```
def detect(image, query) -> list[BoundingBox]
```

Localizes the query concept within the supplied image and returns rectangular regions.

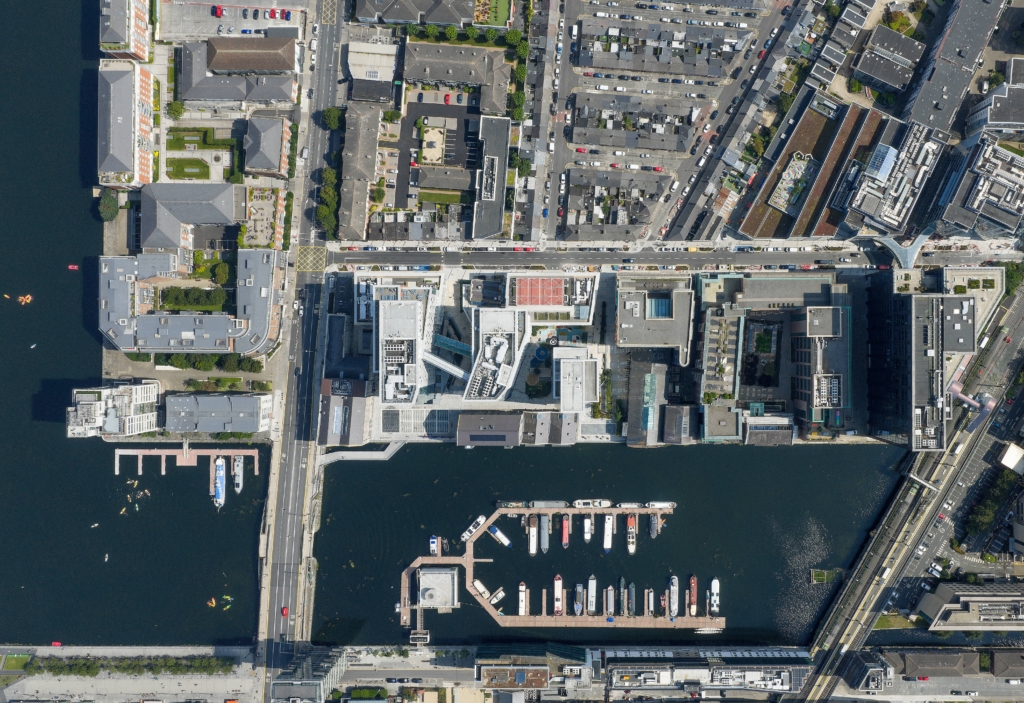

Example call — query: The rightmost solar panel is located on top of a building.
[791,669,804,687]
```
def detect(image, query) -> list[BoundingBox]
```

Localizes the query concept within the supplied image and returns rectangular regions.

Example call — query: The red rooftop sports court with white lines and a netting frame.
[516,278,564,306]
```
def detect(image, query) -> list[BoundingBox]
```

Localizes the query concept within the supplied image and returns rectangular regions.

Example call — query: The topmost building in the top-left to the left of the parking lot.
[100,0,149,68]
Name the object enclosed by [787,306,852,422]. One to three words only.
building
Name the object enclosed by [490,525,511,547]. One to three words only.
boat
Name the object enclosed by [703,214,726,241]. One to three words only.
house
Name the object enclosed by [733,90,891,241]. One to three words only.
building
